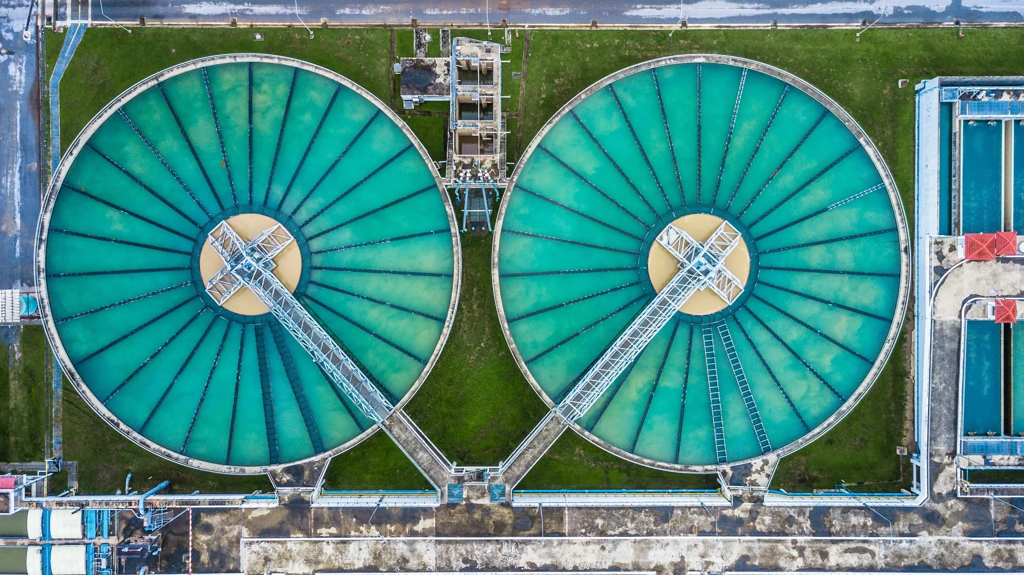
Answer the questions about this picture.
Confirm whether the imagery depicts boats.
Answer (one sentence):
No, the picture doesn't show any boat.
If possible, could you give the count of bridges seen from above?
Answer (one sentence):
In total, 2 bridges can be seen.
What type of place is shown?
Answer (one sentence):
This image shows an industrial area.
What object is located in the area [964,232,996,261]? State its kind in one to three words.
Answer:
shed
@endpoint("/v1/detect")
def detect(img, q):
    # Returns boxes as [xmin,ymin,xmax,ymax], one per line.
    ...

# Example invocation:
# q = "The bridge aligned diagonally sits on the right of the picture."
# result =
[554,219,745,423]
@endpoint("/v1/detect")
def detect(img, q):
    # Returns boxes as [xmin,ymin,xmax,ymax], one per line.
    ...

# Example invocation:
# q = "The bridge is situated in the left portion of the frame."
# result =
[205,219,396,423]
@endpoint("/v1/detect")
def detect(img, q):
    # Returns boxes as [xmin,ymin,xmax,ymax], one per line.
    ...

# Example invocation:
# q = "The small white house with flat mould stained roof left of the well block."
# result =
[401,57,449,99]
